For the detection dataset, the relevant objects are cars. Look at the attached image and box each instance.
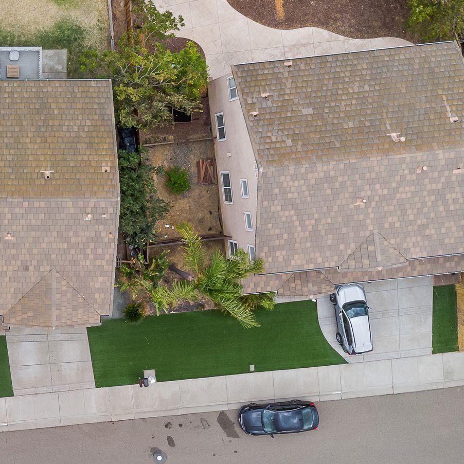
[330,285,377,356]
[237,398,318,439]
